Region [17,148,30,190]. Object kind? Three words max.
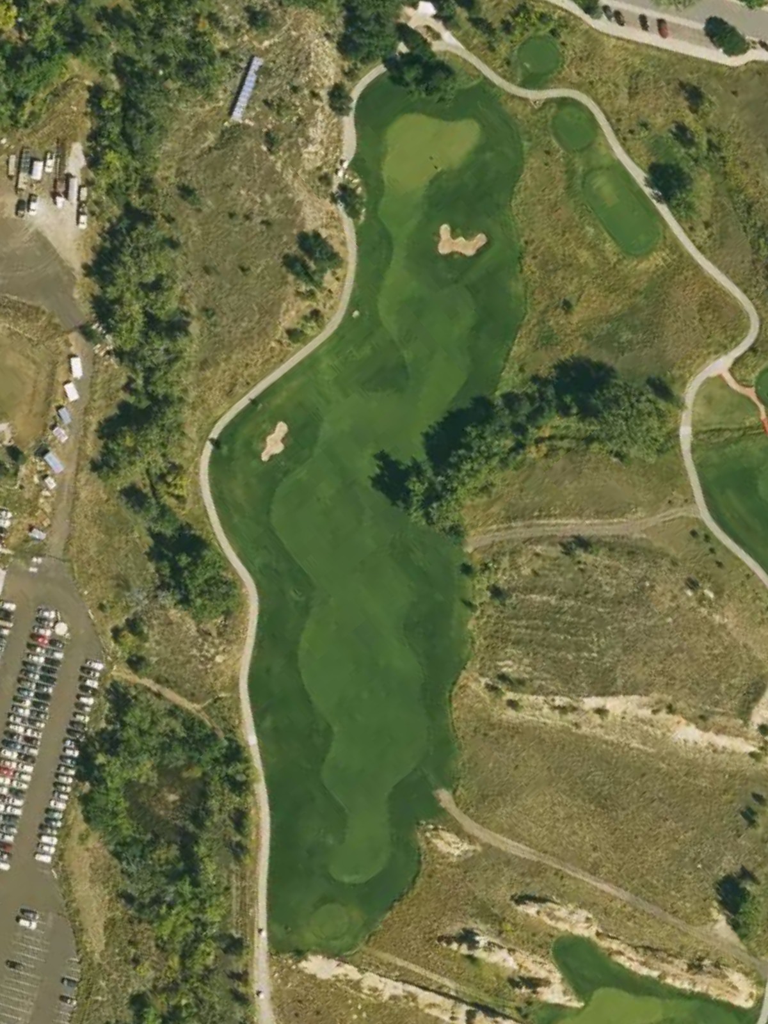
vehicle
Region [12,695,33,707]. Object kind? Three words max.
vehicle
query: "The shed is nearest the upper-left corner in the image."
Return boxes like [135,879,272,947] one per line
[231,55,265,121]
